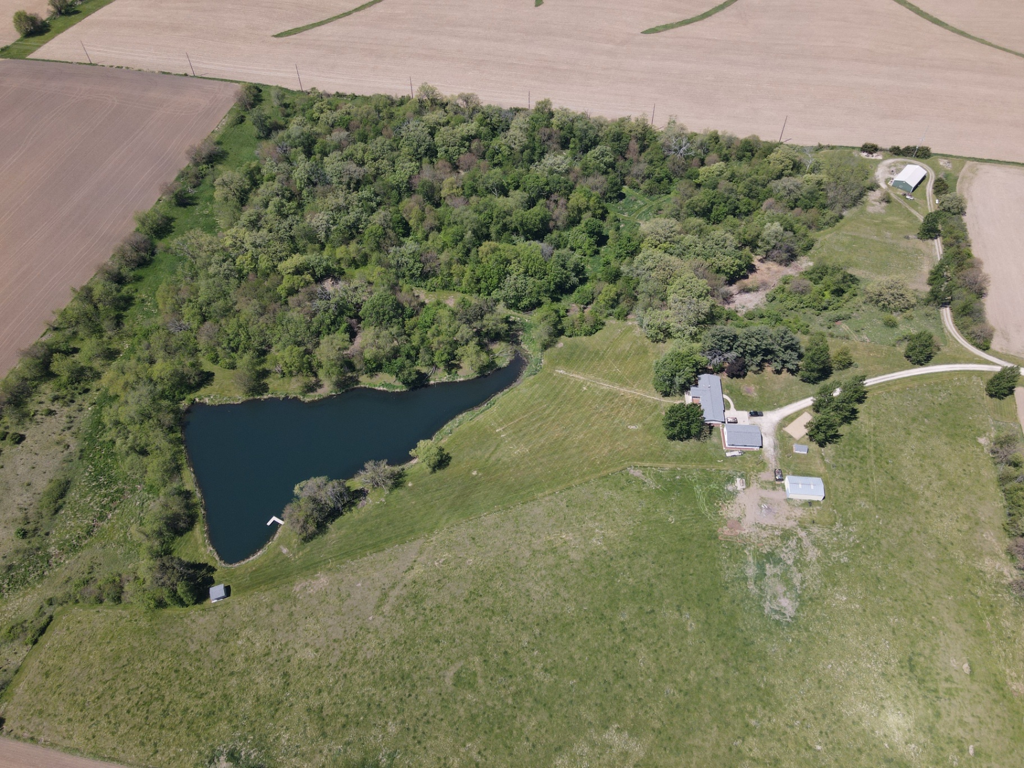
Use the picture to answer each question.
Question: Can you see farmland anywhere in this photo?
Yes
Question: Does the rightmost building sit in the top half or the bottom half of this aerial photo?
top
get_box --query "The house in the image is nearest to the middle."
[689,374,727,426]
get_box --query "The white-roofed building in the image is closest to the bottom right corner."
[784,476,825,501]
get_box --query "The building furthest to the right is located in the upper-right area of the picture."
[891,165,927,194]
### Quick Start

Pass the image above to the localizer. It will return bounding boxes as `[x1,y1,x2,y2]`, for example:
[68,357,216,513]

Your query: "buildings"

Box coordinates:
[209,585,227,604]
[891,165,927,194]
[784,476,825,501]
[724,424,763,450]
[689,374,727,426]
[790,444,808,455]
